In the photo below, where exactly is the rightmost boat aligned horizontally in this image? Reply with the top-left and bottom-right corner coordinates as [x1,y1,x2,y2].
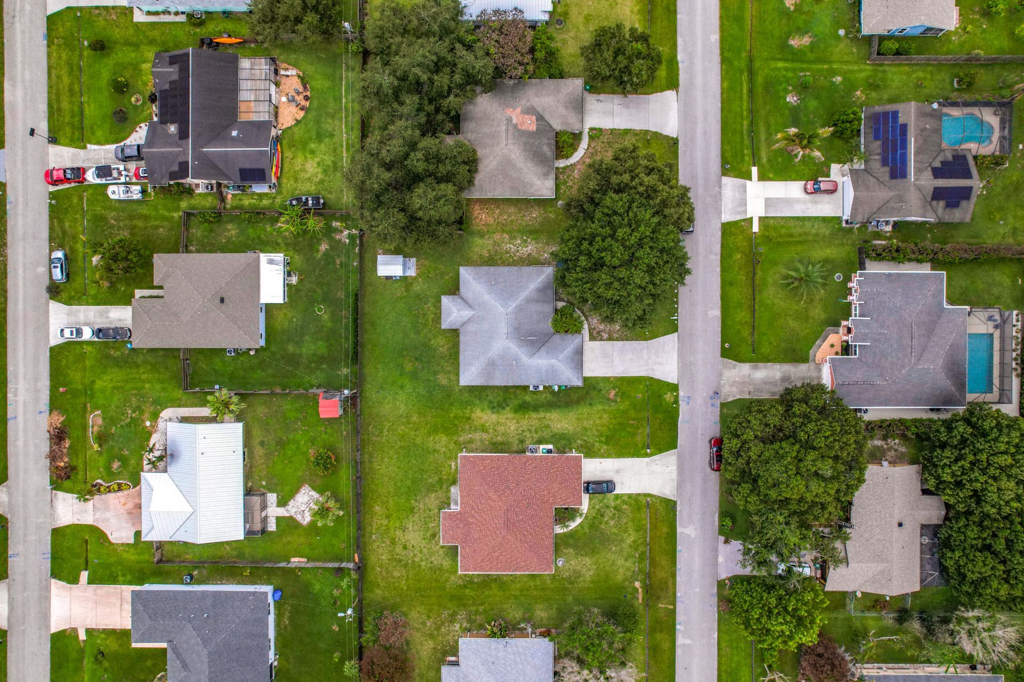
[289,195,325,209]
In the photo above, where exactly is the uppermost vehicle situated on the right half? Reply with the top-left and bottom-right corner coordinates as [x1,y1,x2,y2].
[803,178,838,195]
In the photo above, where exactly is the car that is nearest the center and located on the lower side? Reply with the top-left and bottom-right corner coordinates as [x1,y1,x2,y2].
[584,480,615,495]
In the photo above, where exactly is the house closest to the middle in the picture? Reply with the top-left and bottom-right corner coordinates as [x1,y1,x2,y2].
[441,265,584,387]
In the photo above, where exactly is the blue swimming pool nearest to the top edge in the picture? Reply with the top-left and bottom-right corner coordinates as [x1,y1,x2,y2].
[942,112,995,147]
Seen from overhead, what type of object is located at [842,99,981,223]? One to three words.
house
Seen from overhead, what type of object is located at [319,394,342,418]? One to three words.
shed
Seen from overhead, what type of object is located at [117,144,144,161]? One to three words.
vehicle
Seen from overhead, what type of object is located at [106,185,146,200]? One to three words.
boat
